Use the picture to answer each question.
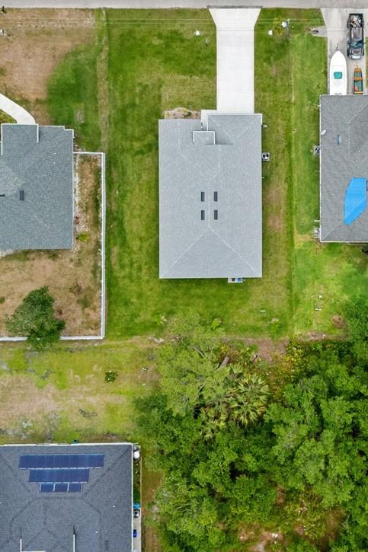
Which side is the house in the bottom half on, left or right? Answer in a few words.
left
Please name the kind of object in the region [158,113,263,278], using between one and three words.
house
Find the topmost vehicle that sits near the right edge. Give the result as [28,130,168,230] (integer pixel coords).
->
[348,10,366,57]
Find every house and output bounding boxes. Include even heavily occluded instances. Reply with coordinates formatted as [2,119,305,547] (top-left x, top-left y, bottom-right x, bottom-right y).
[158,113,263,278]
[0,123,75,250]
[319,94,368,242]
[0,441,133,552]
